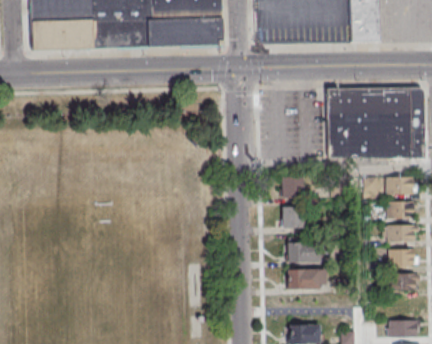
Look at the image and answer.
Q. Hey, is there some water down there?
No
